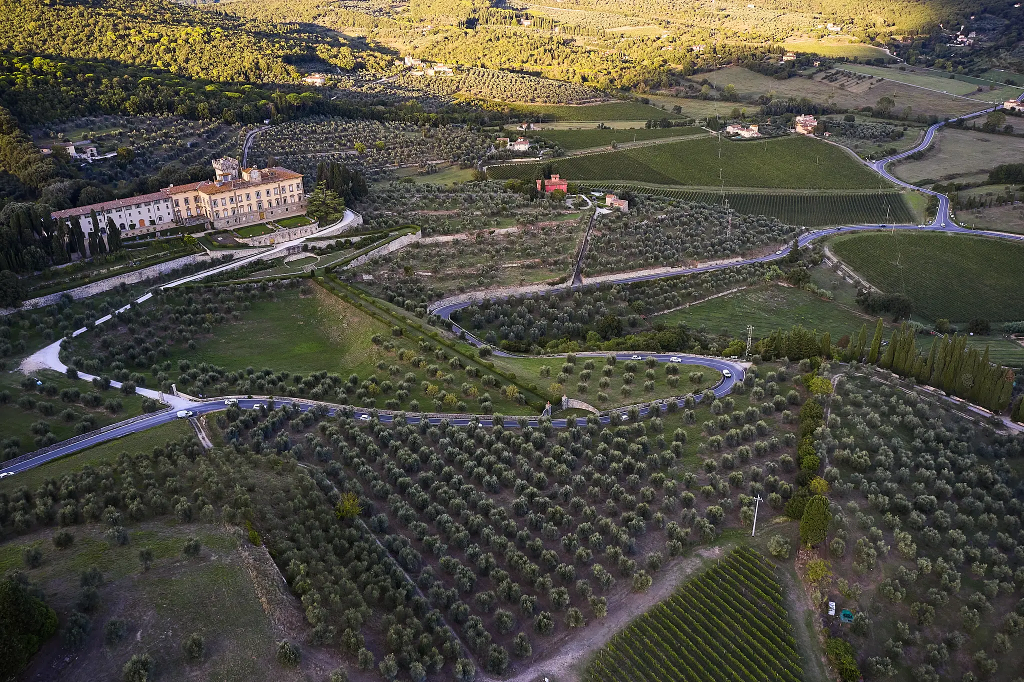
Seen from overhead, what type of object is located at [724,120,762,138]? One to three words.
house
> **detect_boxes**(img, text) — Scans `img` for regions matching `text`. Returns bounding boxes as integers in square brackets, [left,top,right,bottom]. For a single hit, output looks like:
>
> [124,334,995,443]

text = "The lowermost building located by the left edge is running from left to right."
[45,155,307,248]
